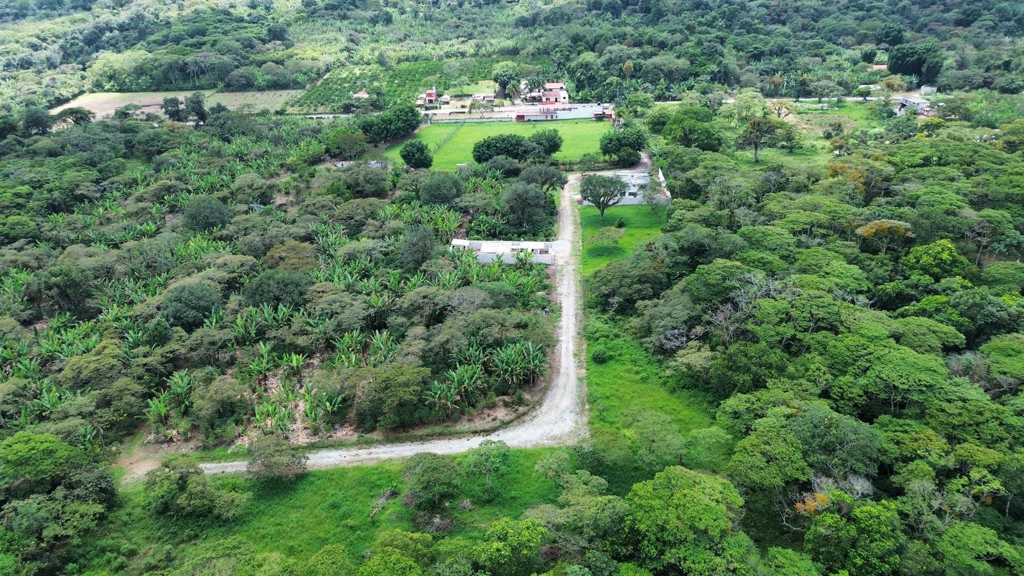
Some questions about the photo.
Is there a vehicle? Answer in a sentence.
No, there isn't any vehicle down there.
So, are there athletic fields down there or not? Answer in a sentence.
Yes, there's an athletic field here.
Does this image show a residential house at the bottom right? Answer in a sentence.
No, at the bottom right there is no residential house.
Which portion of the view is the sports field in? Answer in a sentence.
The sports field sits in the top section of the image.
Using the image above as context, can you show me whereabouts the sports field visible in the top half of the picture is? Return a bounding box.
[370,118,621,176]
